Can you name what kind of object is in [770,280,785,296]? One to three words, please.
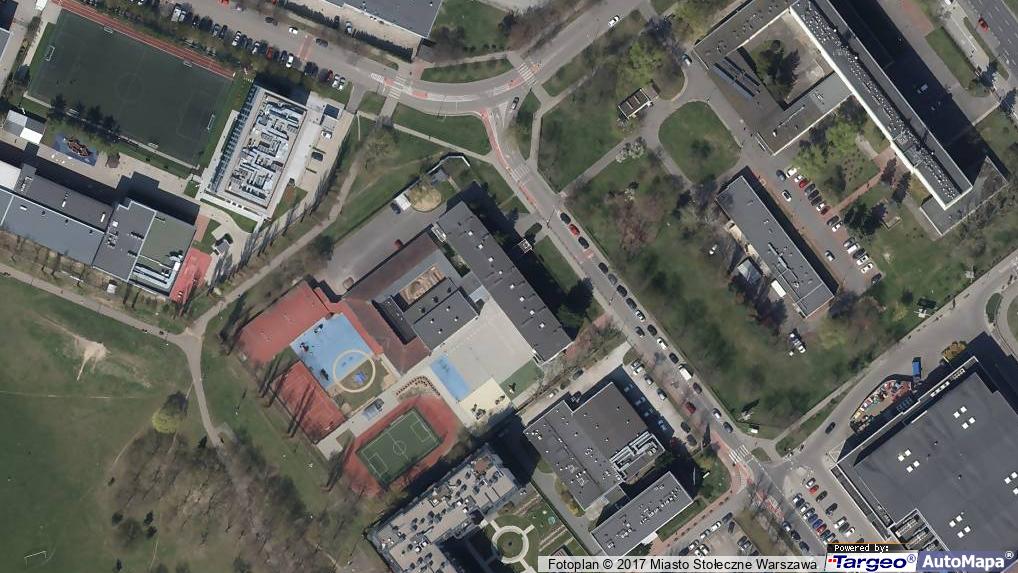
vehicle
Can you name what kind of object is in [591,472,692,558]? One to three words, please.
building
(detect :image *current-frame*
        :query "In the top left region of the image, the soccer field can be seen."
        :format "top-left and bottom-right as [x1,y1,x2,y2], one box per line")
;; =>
[28,9,233,168]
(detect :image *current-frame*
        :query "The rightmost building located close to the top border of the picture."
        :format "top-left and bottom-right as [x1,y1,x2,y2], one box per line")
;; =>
[786,0,973,211]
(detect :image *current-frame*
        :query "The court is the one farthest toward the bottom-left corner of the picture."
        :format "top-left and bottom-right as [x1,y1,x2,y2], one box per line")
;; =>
[271,361,344,443]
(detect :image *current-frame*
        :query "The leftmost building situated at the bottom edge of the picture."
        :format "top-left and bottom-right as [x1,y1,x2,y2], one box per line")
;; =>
[366,452,520,573]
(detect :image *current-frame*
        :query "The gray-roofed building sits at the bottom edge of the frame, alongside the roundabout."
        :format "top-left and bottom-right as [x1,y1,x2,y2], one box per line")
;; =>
[829,357,1018,573]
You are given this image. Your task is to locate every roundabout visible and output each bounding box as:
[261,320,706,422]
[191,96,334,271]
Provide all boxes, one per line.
[984,270,1018,366]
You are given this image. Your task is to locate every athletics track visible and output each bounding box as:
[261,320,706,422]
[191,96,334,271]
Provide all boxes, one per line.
[56,0,236,81]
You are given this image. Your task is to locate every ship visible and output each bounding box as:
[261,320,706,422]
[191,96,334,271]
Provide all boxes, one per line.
[67,139,89,155]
